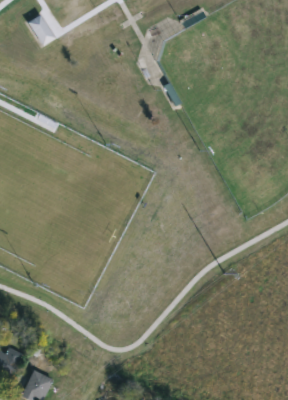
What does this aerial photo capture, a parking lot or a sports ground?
sports ground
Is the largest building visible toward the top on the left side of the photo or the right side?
left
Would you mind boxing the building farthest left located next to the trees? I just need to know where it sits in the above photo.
[0,347,22,374]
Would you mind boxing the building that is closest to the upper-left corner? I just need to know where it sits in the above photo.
[27,14,55,46]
